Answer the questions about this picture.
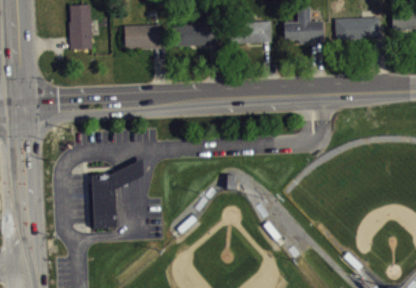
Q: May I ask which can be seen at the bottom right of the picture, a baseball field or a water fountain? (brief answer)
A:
baseball field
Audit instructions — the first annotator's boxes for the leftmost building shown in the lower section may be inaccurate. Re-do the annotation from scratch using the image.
[92,158,144,233]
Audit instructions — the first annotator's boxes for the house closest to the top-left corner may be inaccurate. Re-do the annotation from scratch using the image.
[70,5,92,52]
